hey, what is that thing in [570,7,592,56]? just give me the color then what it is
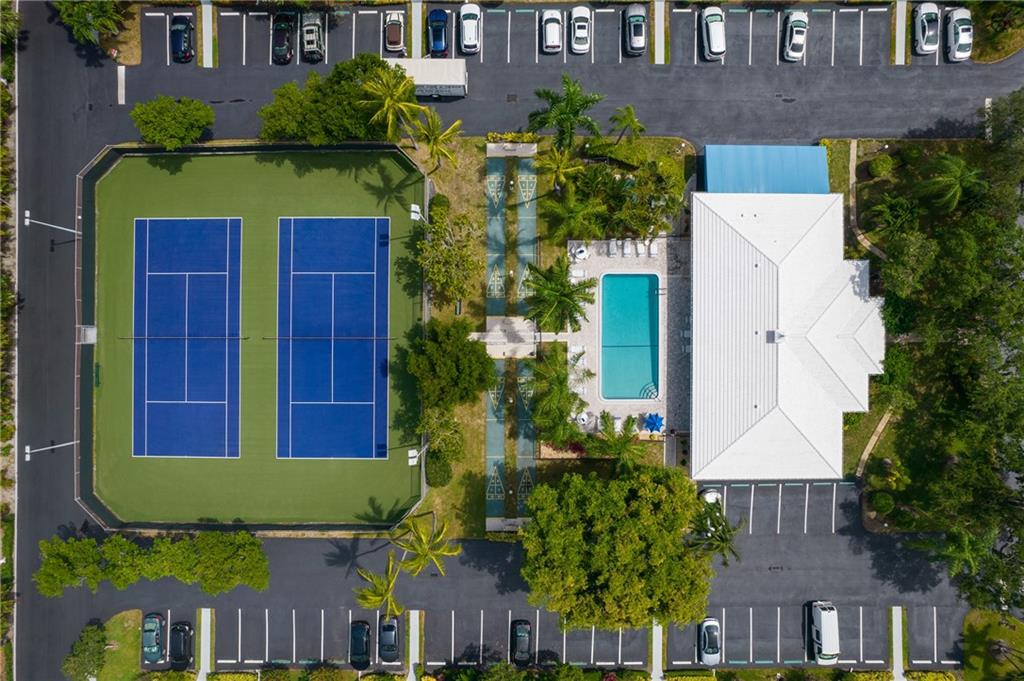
white car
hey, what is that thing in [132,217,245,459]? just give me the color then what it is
blue tennis court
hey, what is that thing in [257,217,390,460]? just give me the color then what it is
blue tennis court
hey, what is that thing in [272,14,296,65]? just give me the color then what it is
black car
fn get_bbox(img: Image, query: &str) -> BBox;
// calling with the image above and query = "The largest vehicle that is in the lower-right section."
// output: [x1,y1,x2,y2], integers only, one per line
[809,598,840,665]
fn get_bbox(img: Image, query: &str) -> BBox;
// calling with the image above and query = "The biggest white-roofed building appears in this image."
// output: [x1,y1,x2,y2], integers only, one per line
[690,192,885,480]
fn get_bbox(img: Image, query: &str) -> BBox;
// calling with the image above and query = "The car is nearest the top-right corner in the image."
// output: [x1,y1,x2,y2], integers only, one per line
[946,11,973,62]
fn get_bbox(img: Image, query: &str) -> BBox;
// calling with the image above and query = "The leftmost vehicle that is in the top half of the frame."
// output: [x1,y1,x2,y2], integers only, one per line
[170,15,196,65]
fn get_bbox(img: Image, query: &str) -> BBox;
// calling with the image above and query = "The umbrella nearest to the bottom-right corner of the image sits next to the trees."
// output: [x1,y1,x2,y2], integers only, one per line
[642,410,663,432]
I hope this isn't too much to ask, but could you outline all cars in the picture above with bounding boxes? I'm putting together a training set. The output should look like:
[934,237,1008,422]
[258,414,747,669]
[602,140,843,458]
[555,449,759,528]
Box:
[141,612,167,662]
[698,615,722,666]
[168,619,194,670]
[541,9,563,55]
[458,4,481,55]
[272,14,296,65]
[783,12,809,63]
[625,5,648,56]
[700,8,725,62]
[384,13,405,54]
[946,11,973,62]
[427,10,449,58]
[511,618,532,665]
[913,5,940,55]
[570,7,592,56]
[170,15,196,65]
[349,618,372,670]
[300,15,324,63]
[377,613,400,662]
